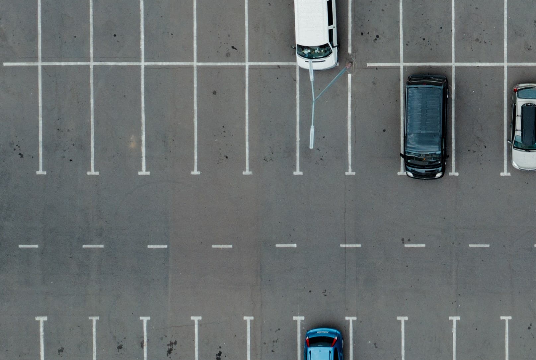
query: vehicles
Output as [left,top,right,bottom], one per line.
[399,73,450,181]
[289,0,340,70]
[505,83,536,171]
[303,326,345,360]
